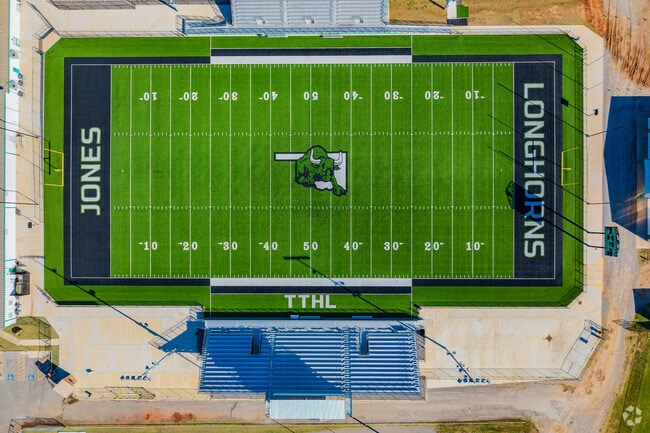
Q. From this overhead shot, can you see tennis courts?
No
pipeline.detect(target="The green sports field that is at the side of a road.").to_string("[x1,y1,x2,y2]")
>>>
[44,34,584,318]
